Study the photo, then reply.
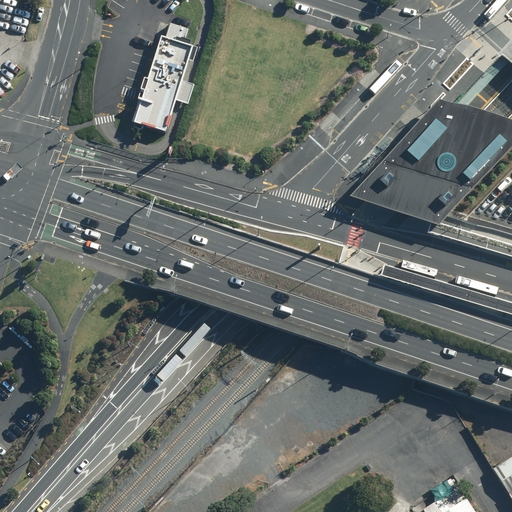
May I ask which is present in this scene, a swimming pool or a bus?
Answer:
bus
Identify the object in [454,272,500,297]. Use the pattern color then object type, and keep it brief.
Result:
white bus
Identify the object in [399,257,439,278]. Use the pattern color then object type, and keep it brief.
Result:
white bus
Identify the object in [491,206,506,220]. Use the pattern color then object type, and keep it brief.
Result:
white vehicle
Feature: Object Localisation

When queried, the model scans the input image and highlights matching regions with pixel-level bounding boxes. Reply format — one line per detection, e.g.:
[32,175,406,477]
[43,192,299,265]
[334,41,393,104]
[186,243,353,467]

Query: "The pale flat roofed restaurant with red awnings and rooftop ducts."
[133,22,198,131]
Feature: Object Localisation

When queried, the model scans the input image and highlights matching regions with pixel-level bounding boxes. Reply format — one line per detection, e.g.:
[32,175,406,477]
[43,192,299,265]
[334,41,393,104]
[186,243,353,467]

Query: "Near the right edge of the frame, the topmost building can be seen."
[350,100,512,224]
